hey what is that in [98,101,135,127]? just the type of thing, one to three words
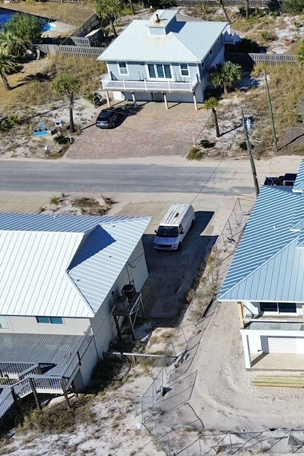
car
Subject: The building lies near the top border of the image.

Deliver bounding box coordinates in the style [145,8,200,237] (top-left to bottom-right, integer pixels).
[95,11,244,110]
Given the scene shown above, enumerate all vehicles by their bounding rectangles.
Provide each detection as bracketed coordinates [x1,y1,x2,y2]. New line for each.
[258,168,299,192]
[98,101,135,127]
[151,192,204,246]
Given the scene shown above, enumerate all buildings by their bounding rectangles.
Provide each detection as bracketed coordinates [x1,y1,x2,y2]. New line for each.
[0,214,154,417]
[216,158,304,374]
[95,11,244,110]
